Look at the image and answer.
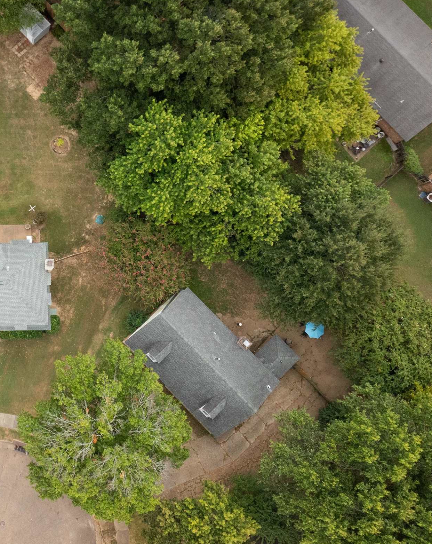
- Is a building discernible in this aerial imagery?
Yes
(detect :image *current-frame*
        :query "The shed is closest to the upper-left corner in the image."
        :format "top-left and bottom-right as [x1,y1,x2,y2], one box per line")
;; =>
[20,10,50,49]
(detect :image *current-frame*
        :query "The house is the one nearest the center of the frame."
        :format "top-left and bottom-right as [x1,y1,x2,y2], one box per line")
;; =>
[122,287,301,437]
